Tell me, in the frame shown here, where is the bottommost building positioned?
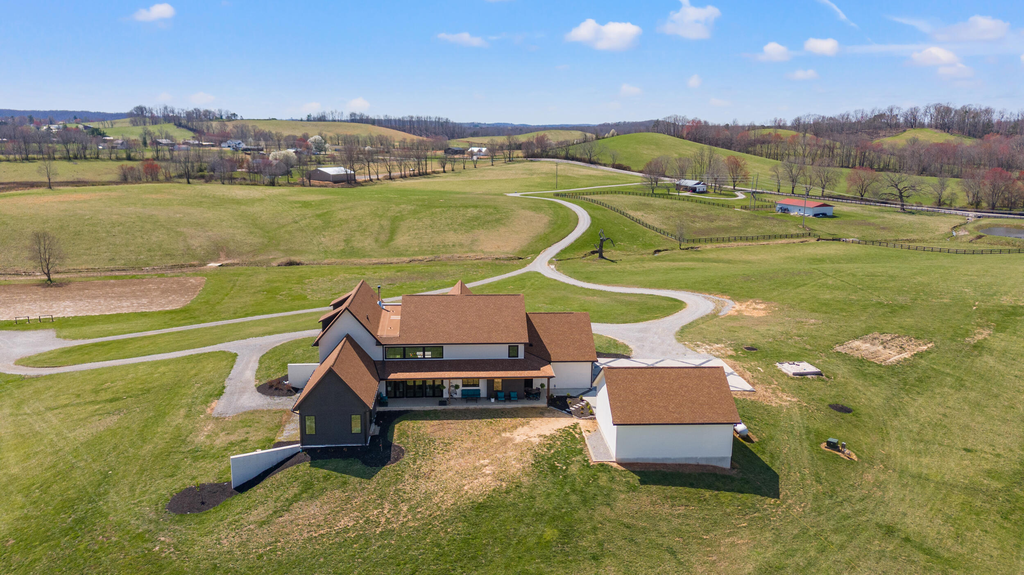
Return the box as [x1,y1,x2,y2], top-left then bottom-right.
[592,365,742,469]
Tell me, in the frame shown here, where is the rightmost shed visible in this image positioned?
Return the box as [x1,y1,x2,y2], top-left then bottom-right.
[770,199,824,217]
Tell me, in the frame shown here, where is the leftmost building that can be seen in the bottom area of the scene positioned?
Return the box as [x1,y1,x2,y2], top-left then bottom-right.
[290,279,598,449]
